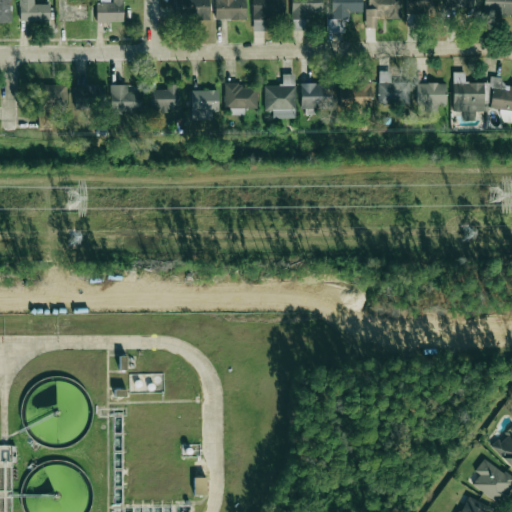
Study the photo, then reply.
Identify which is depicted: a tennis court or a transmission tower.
transmission tower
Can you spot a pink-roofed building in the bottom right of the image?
No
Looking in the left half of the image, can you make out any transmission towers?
Yes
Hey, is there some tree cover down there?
Yes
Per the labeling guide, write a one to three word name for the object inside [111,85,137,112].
house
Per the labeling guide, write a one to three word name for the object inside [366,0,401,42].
house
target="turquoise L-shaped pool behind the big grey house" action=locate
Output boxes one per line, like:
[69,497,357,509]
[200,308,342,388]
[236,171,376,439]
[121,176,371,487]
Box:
[453,112,484,129]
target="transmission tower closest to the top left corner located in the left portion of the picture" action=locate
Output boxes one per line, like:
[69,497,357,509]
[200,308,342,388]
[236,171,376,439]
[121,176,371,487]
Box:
[64,178,84,217]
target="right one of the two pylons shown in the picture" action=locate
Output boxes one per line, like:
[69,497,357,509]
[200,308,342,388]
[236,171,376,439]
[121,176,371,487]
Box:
[485,176,512,214]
